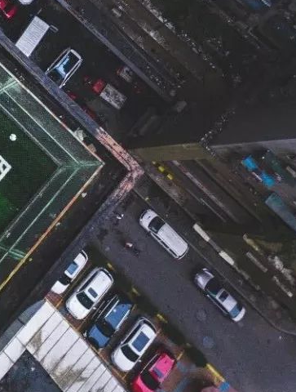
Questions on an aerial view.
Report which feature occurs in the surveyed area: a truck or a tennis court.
truck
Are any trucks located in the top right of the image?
No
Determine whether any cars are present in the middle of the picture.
Yes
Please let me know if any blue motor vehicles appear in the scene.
Yes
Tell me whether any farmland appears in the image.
No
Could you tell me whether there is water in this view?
No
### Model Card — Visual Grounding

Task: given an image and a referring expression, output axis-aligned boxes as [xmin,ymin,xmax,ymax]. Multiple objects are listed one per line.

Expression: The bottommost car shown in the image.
[133,346,177,392]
